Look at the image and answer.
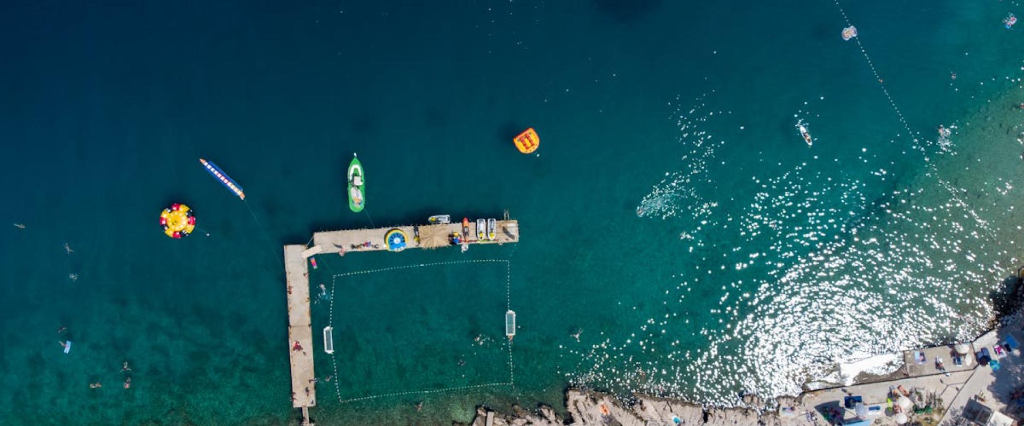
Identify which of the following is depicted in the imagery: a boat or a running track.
boat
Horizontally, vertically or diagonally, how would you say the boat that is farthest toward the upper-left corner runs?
diagonally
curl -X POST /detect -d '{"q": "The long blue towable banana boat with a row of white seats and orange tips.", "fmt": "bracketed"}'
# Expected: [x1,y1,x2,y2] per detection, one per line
[198,159,245,200]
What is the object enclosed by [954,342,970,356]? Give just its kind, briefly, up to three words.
umbrella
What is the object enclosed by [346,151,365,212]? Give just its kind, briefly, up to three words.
boat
